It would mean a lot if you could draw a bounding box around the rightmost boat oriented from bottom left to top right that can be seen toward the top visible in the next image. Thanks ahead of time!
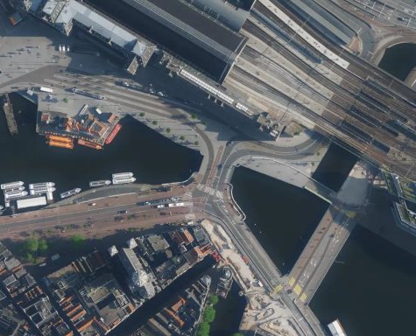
[106,124,123,143]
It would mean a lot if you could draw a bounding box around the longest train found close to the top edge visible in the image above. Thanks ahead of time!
[253,12,321,61]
